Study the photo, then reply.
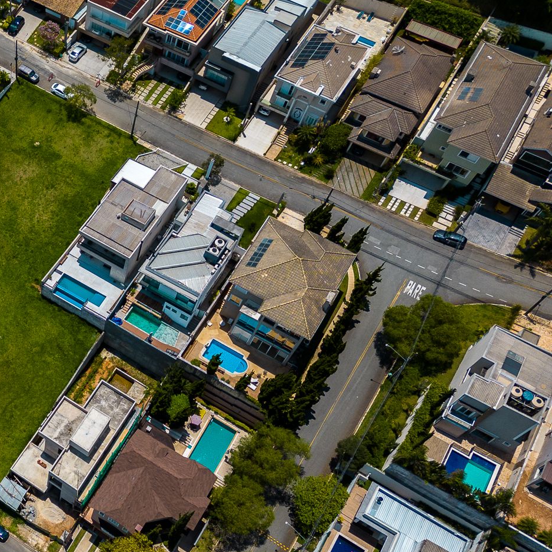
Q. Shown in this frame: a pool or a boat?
pool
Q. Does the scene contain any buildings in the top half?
Yes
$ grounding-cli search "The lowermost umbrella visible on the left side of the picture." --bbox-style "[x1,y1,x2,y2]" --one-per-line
[187,414,203,431]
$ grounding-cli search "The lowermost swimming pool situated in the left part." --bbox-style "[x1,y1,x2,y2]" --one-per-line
[184,414,240,476]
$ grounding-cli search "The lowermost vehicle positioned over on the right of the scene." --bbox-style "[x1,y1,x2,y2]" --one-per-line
[436,229,467,246]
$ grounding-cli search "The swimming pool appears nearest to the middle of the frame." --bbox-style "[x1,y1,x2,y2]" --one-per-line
[199,337,251,375]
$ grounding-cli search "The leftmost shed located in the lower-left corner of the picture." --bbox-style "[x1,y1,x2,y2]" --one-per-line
[0,475,25,512]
